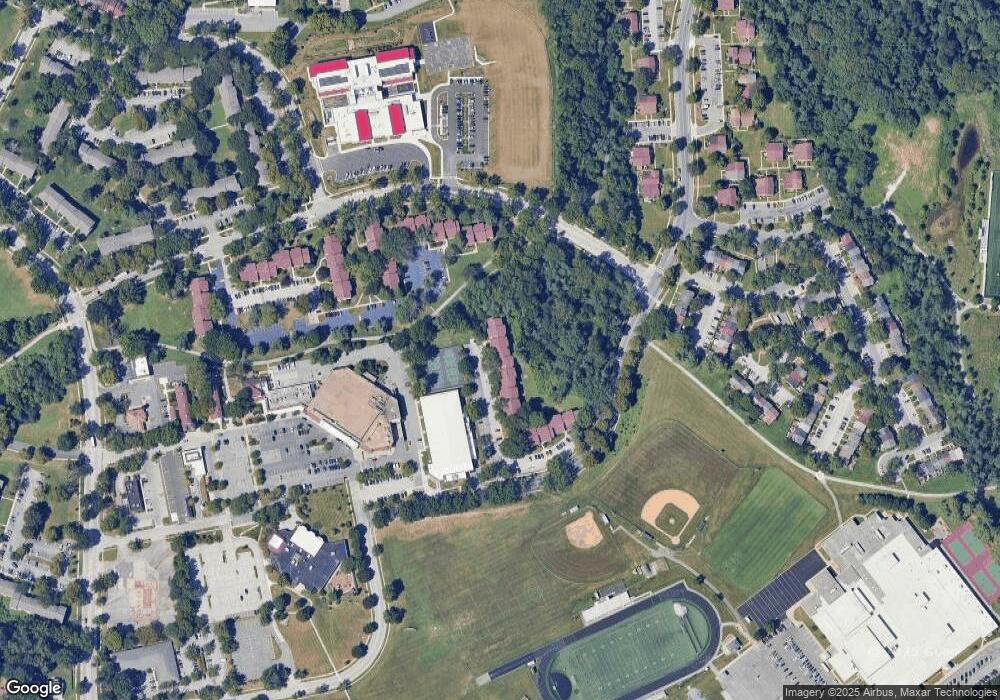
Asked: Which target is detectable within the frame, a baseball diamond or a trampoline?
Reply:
baseball diamond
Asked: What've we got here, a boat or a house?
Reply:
house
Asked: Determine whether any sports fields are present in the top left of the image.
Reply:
No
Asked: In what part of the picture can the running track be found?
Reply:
bottom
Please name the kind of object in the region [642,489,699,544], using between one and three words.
baseball field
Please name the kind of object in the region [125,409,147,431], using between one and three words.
house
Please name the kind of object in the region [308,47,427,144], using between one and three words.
building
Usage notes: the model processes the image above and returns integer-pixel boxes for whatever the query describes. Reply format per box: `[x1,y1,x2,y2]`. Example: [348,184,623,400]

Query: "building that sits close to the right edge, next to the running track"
[800,511,1000,700]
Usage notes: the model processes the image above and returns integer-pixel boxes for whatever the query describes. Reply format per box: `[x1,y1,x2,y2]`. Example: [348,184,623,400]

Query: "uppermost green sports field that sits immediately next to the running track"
[705,468,828,592]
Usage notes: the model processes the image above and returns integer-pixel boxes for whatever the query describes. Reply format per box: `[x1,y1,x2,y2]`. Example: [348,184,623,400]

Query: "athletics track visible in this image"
[474,581,716,700]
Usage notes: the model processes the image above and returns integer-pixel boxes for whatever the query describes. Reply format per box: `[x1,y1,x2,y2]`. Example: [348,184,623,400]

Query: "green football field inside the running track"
[549,598,707,700]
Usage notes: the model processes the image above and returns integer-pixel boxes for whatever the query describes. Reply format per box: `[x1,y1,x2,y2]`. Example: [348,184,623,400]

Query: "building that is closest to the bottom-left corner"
[0,581,67,621]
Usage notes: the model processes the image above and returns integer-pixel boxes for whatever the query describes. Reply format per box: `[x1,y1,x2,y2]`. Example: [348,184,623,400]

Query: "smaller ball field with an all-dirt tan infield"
[566,512,603,549]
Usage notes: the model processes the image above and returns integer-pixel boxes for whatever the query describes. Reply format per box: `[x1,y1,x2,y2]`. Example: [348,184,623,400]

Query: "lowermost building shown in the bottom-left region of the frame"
[113,641,180,683]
